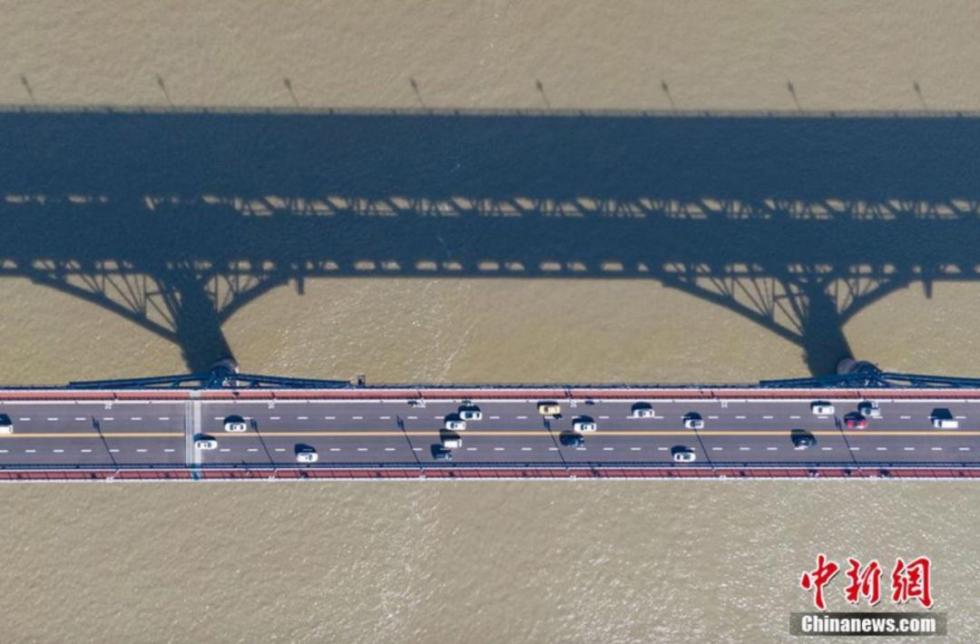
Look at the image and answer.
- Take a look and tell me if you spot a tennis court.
No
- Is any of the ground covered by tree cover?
No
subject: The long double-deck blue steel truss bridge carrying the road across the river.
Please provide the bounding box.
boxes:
[0,357,980,481]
